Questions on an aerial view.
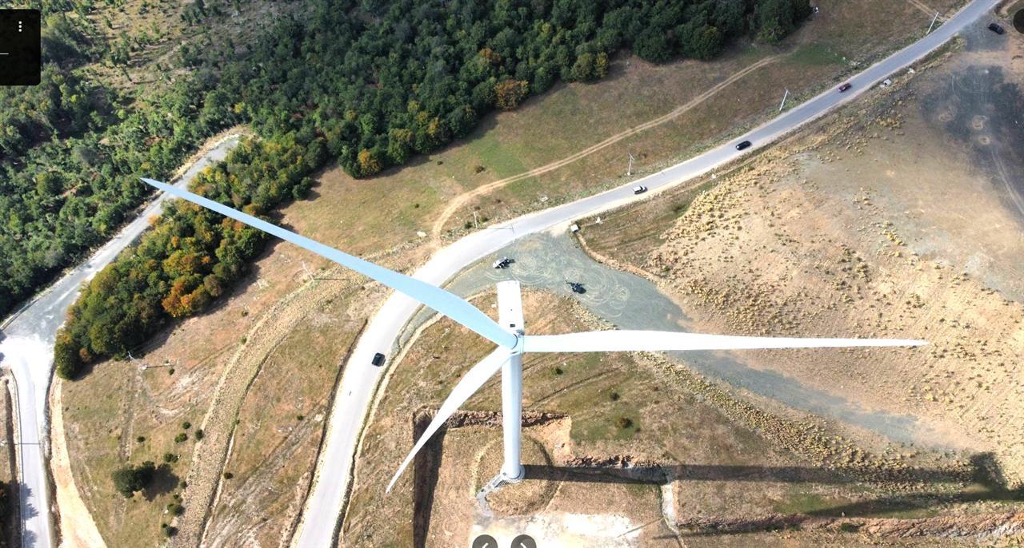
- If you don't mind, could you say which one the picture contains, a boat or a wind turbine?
wind turbine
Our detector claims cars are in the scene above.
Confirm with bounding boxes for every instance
[371,352,383,367]
[566,280,583,294]
[494,257,511,270]
[736,141,752,151]
[990,23,1004,33]
[632,185,647,194]
[838,82,852,92]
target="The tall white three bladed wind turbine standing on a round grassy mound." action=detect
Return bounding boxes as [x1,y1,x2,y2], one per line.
[143,176,927,490]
